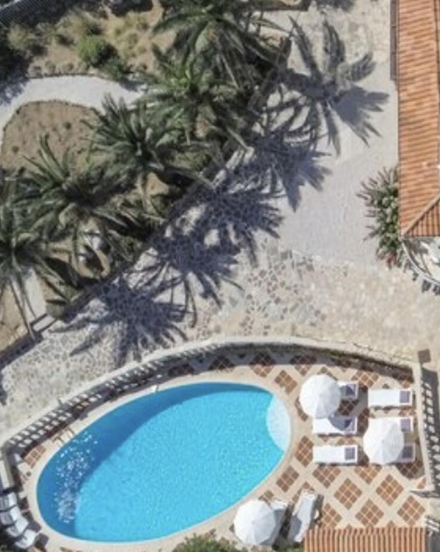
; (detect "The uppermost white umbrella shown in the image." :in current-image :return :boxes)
[300,376,342,417]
